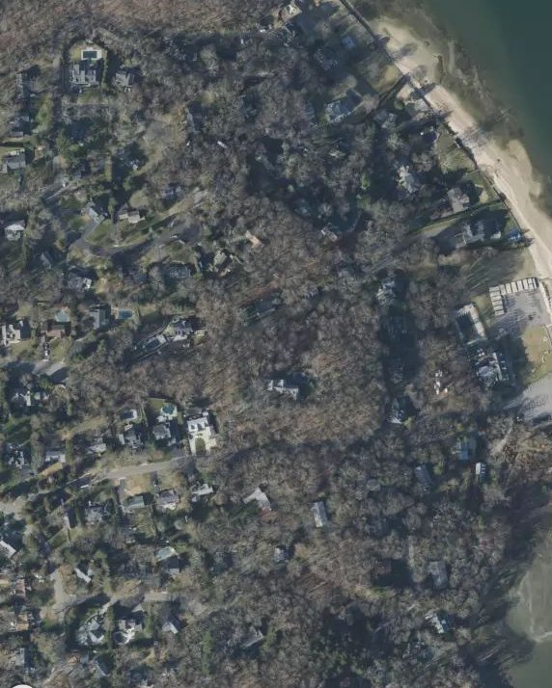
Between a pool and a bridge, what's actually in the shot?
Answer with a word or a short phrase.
pool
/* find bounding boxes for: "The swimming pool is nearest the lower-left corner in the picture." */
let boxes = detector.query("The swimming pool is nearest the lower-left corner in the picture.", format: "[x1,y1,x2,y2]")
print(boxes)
[118,407,135,421]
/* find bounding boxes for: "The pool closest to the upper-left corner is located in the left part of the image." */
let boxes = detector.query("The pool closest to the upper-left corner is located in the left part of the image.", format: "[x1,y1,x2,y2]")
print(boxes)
[80,49,98,61]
